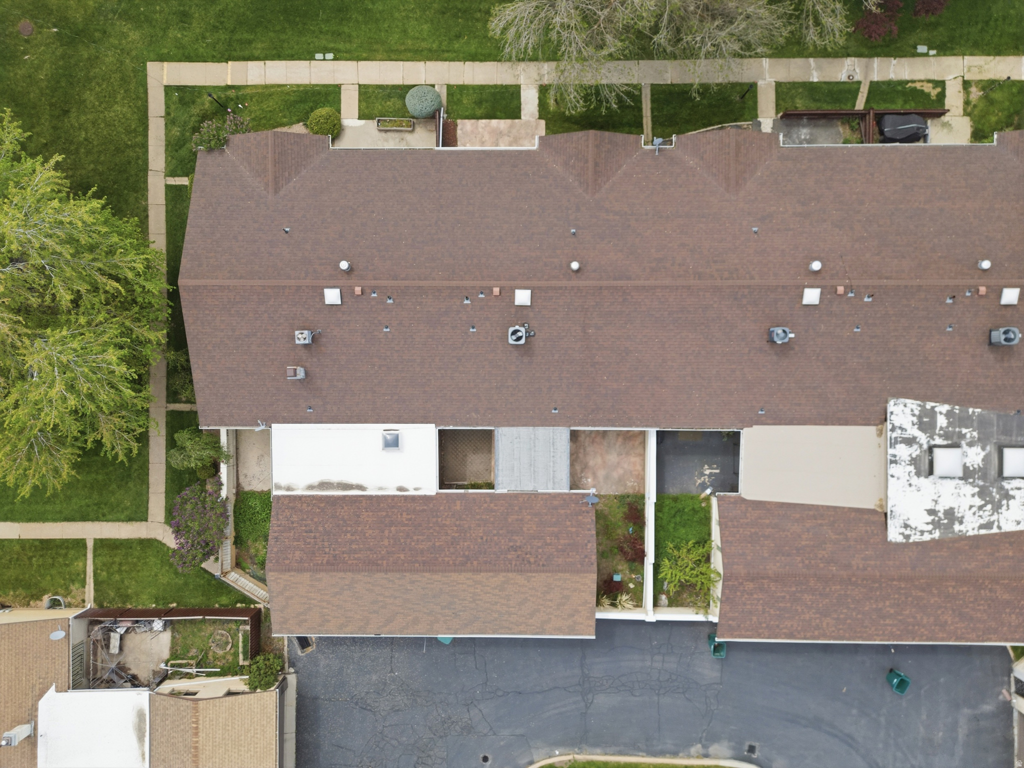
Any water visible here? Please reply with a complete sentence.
No, water can't be seen anywhere here.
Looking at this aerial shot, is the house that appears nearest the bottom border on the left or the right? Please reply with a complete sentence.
It is on the left.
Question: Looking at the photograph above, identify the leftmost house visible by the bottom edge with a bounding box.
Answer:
[0,604,285,768]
